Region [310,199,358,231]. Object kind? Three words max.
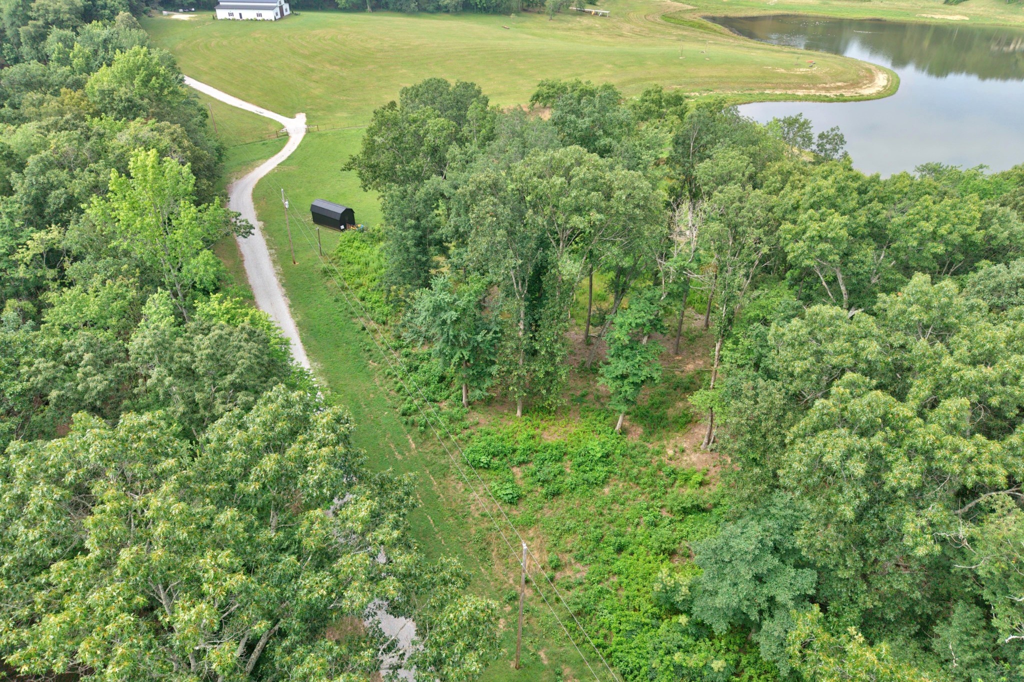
shed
